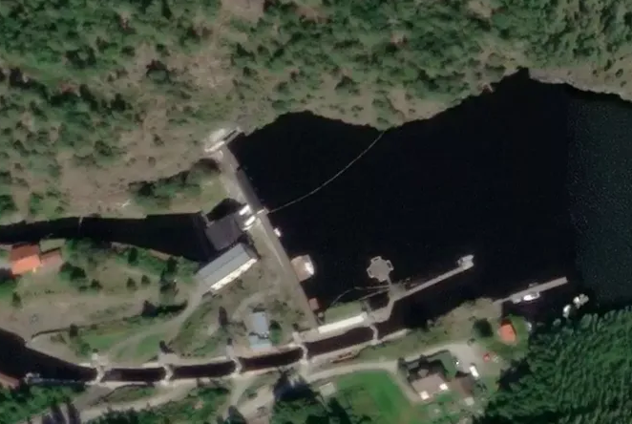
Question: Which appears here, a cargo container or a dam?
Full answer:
It is a dam that can be seen here.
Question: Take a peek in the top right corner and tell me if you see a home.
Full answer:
No, no home appears in the top right corner.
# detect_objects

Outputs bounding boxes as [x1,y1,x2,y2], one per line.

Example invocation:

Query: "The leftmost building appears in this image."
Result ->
[9,247,43,276]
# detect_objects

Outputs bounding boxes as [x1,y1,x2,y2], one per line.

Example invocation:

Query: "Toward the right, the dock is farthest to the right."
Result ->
[492,276,568,304]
